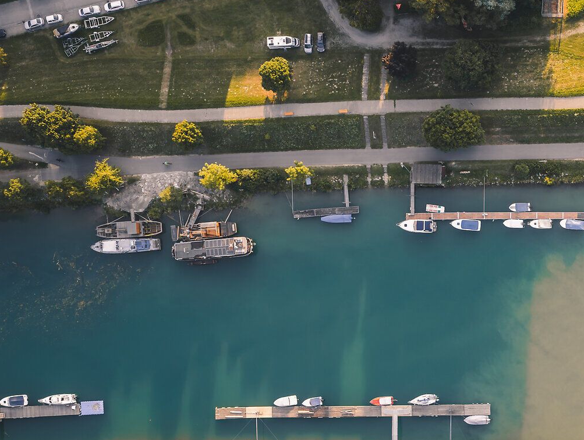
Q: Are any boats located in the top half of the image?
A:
Yes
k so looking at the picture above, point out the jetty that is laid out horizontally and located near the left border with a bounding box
[0,403,80,421]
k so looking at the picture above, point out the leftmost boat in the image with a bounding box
[0,394,31,407]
